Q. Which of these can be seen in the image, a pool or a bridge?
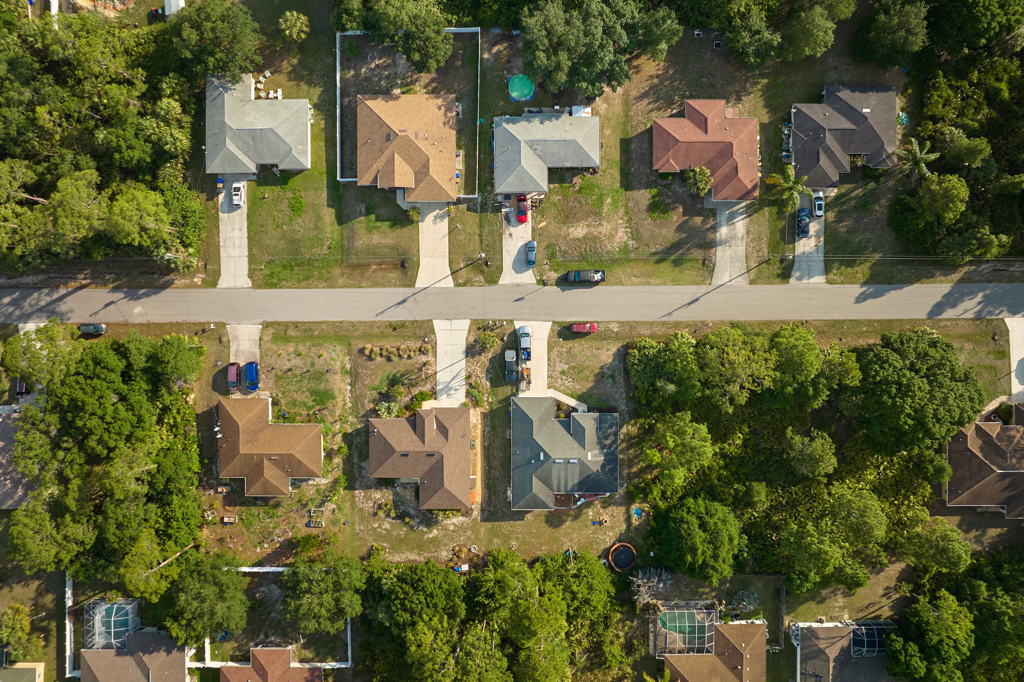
pool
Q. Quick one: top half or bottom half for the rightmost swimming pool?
bottom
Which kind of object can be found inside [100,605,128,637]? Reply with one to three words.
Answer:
swimming pool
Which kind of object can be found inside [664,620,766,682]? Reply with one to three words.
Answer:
house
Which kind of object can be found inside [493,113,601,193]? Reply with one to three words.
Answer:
house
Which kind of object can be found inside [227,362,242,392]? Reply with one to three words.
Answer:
vehicle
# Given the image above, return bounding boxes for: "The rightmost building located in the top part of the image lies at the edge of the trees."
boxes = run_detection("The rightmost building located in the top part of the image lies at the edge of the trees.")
[788,85,896,188]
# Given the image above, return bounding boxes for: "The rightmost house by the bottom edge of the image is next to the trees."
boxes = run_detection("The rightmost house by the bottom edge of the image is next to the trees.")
[797,623,903,682]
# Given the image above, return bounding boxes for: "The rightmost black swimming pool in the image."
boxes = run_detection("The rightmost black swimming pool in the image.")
[855,628,893,652]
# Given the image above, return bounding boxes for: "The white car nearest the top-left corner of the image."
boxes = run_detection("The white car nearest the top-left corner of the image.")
[230,182,245,208]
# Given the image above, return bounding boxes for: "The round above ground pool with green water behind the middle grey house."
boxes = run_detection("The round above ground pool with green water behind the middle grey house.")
[508,73,535,101]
